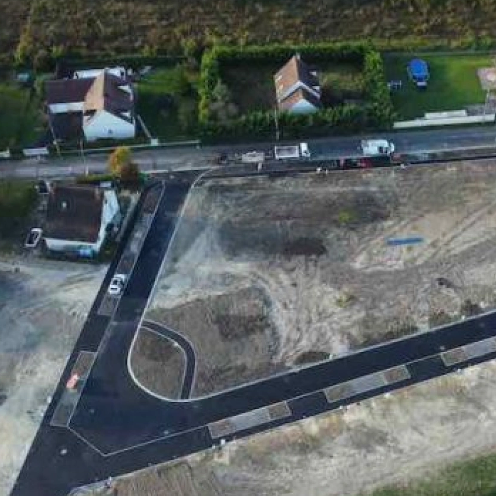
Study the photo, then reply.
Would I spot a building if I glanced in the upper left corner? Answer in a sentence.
Yes, a building is visible in the upper left corner.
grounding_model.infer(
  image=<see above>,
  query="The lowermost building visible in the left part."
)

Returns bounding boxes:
[41,180,126,259]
